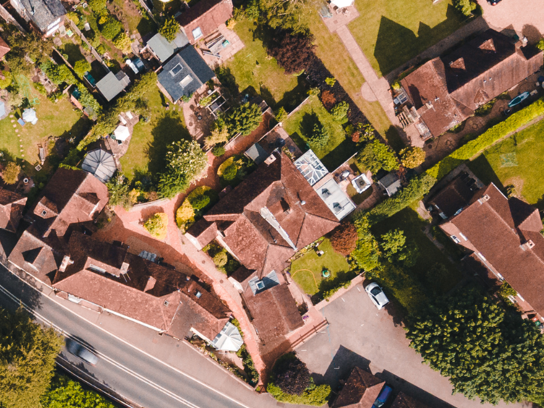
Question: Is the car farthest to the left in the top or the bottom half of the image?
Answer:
bottom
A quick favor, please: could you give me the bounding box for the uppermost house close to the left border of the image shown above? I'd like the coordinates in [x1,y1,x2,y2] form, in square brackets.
[11,0,65,48]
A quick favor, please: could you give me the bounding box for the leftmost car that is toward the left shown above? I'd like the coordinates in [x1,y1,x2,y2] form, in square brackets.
[62,337,99,365]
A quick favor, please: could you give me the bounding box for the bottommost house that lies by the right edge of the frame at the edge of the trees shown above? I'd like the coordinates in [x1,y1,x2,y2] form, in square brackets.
[421,172,544,337]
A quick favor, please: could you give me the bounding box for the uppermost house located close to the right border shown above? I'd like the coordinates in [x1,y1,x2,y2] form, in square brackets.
[387,24,544,145]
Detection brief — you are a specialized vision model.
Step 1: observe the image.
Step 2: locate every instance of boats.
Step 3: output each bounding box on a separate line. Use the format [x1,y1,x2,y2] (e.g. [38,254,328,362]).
[510,93,530,106]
